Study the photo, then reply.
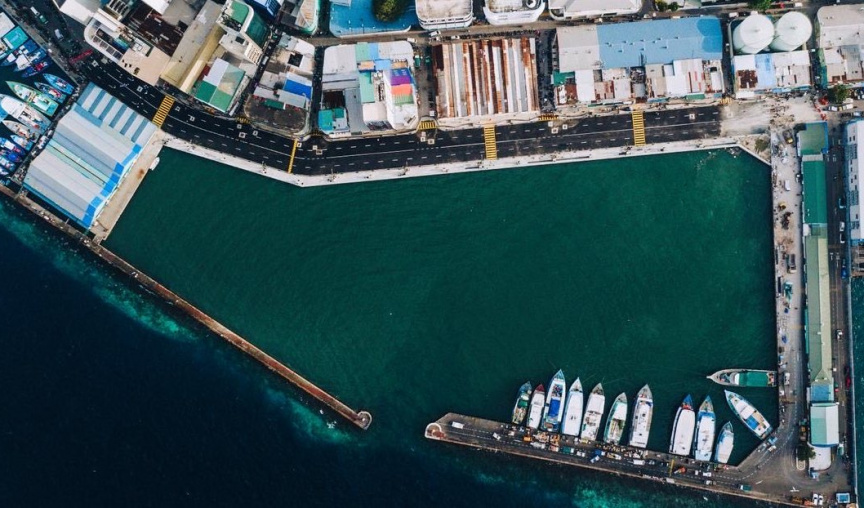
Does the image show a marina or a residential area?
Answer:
marina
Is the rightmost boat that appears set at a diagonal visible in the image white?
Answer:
Yes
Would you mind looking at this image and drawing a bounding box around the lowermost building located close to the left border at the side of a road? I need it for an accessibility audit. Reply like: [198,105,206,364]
[23,81,162,228]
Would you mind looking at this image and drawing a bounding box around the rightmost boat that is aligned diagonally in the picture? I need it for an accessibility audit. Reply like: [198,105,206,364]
[721,386,771,436]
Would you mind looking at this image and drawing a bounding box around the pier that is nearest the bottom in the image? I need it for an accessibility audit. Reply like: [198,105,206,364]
[424,412,745,496]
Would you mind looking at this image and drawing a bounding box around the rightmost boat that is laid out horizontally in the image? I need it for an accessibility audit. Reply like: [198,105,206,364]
[702,370,777,386]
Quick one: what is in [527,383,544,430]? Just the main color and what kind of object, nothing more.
white boat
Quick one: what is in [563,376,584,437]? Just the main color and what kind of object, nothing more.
white boat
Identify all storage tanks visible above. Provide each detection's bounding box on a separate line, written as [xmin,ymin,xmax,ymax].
[732,14,775,55]
[768,10,813,53]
